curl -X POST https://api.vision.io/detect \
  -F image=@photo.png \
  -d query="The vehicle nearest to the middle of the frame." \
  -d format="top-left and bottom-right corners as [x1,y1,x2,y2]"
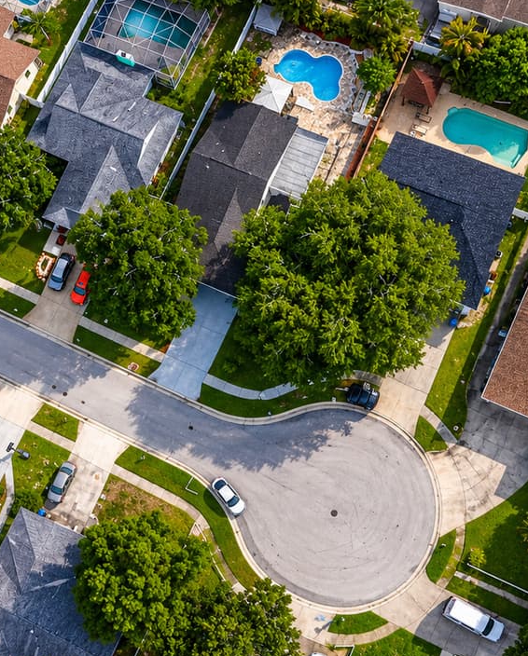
[339,379,385,413]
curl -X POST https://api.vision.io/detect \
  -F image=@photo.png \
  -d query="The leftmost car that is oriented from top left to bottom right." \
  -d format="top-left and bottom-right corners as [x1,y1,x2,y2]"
[209,476,248,519]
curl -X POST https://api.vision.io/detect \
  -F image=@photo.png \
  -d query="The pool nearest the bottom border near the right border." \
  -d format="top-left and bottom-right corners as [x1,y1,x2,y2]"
[439,103,528,171]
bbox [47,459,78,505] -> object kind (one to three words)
car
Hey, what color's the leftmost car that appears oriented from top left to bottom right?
white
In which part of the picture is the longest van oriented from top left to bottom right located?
bottom right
